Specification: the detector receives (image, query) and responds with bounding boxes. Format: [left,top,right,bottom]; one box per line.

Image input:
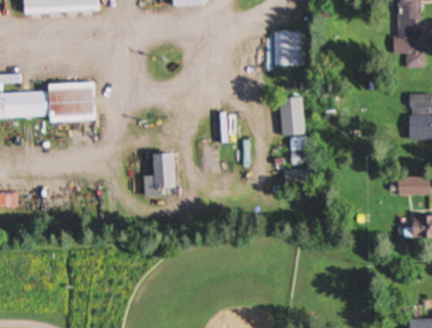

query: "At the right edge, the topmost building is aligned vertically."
[393,0,426,68]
